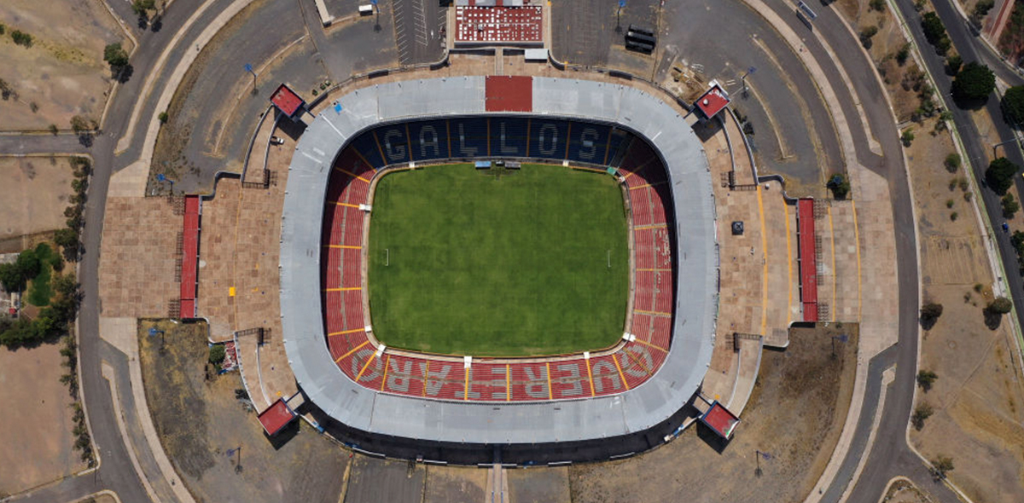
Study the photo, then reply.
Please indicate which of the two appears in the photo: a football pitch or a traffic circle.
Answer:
football pitch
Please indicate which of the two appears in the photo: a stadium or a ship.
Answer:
stadium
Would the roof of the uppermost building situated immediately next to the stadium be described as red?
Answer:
Yes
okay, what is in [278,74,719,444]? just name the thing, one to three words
stadium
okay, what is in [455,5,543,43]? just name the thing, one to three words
building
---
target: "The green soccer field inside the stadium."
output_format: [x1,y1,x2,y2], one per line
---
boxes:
[362,157,636,363]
